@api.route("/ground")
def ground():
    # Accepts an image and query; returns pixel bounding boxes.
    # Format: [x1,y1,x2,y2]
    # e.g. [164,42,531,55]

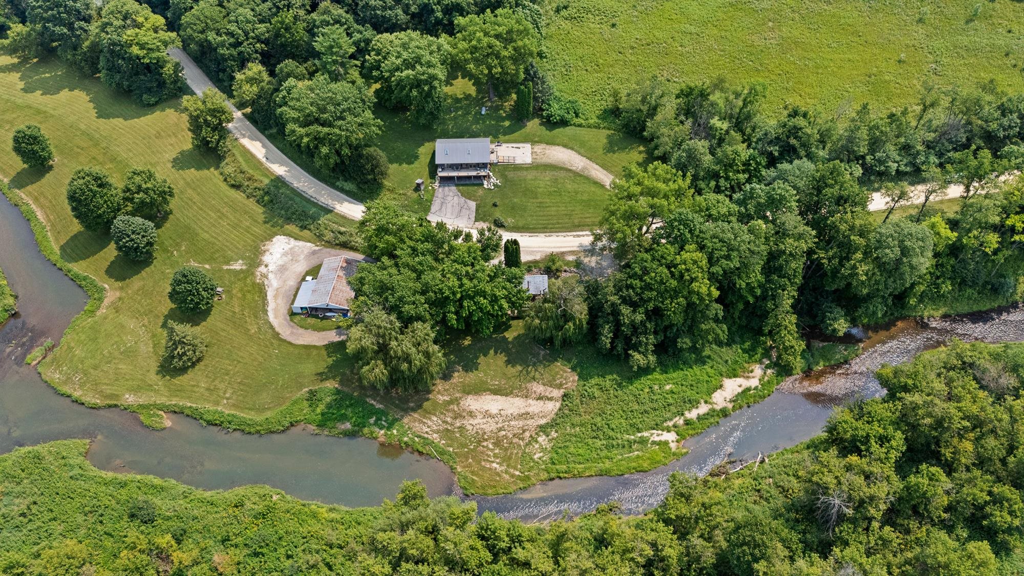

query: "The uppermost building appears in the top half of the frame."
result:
[435,139,490,184]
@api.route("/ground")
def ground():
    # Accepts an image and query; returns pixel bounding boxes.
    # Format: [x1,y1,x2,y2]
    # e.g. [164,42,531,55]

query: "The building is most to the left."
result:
[291,255,363,319]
